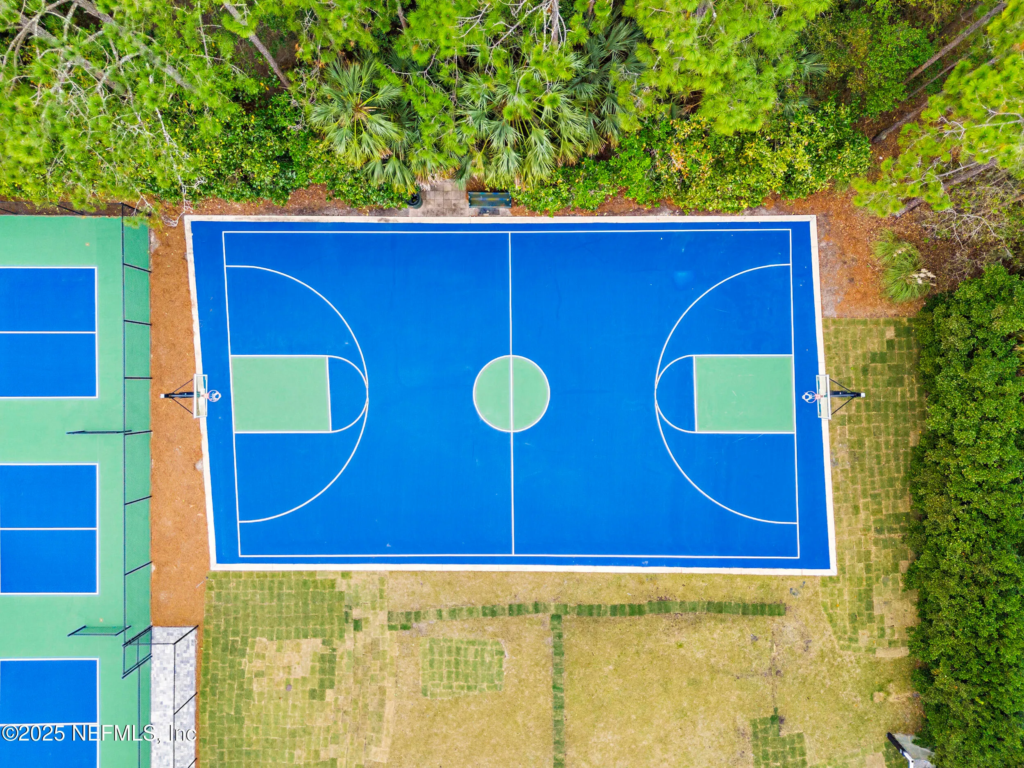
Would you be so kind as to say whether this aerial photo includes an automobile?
No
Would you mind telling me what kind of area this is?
sports ground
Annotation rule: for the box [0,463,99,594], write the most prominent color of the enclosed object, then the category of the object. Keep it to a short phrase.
blue sports court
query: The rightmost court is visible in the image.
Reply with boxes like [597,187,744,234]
[184,215,837,576]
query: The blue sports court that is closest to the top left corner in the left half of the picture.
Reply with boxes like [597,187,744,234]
[0,266,98,398]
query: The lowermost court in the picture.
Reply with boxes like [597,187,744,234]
[0,658,99,768]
